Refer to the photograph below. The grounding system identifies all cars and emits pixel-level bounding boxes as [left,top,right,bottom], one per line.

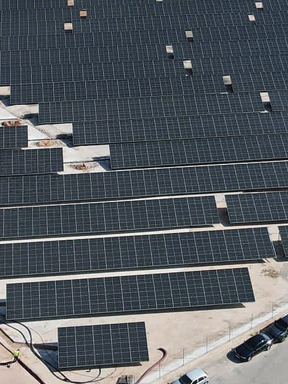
[269,318,288,344]
[178,368,211,384]
[234,336,275,365]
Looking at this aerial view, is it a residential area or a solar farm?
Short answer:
solar farm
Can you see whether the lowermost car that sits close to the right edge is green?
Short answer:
No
